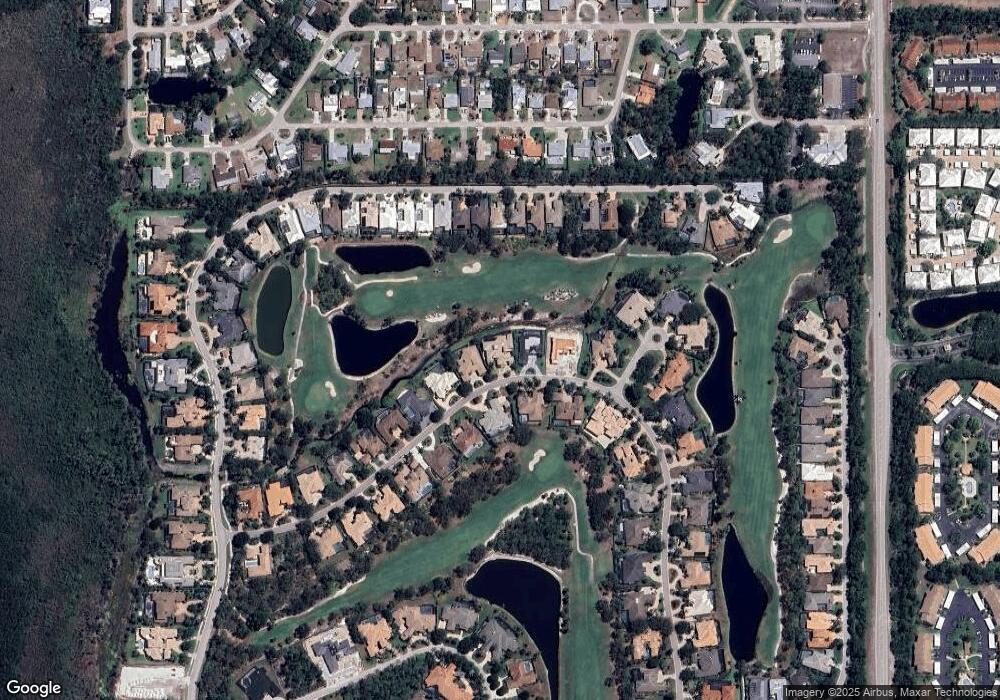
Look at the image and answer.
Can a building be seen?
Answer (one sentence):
Yes, there's a building down there.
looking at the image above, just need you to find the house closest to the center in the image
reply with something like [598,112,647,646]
[483,332,517,367]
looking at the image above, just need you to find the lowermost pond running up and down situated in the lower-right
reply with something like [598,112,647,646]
[722,524,768,661]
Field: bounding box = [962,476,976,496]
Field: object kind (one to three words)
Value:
swimming pool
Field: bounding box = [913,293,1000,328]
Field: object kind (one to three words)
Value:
pond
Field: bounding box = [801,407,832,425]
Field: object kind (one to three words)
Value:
house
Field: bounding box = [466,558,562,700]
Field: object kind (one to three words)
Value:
pond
